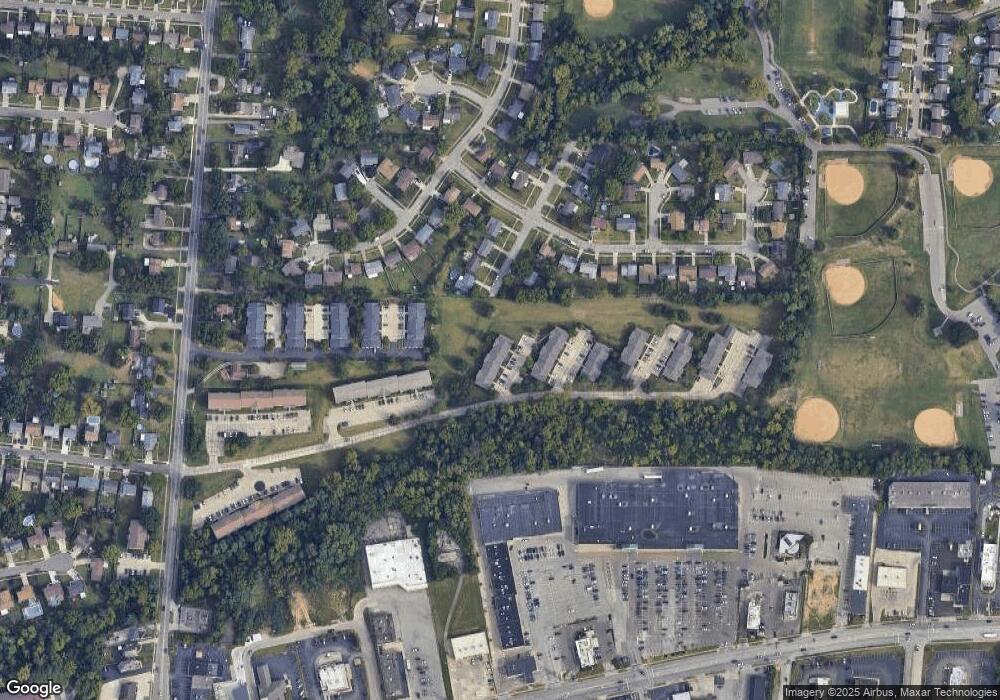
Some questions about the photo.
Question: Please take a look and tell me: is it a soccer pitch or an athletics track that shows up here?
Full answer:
There is a soccer pitch in the scene.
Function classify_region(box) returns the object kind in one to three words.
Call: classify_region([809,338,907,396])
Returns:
soccer field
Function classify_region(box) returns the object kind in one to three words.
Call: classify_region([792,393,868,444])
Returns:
baseball field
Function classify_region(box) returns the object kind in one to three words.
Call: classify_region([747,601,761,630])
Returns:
building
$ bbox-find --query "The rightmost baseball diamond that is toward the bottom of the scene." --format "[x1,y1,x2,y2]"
[893,393,963,449]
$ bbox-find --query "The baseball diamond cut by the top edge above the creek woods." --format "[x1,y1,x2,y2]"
[566,0,669,36]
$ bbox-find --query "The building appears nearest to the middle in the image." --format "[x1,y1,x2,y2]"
[475,336,514,389]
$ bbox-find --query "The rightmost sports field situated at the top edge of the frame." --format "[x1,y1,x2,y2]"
[783,0,846,61]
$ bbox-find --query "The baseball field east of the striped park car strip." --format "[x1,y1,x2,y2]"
[947,154,1000,228]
